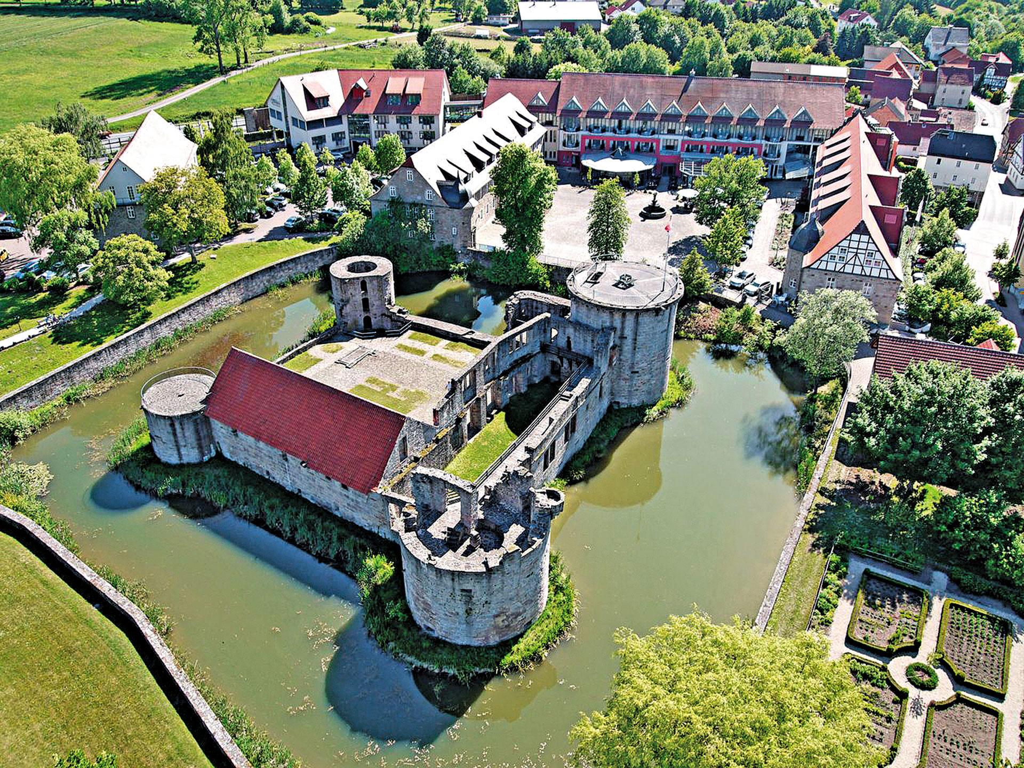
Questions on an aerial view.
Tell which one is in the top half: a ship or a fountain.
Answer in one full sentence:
Looking in the top half, you will find a fountain.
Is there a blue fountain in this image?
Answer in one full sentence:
No, the picture doesn't show any blue fountain.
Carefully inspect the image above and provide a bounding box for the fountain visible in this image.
[636,191,670,223]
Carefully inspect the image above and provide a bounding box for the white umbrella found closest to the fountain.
[671,189,701,201]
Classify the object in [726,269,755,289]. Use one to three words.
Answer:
car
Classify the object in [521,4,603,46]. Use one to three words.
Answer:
building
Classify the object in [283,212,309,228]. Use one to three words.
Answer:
car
